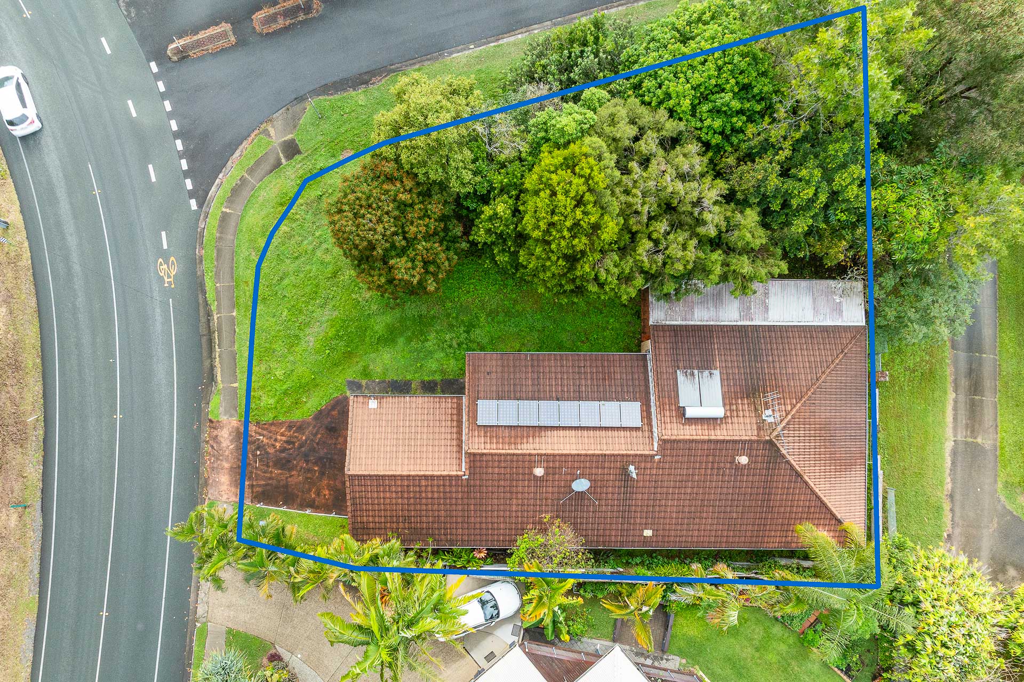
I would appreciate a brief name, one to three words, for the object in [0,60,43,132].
car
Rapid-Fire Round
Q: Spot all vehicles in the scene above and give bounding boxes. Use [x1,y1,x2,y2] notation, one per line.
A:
[446,581,523,645]
[0,60,43,132]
